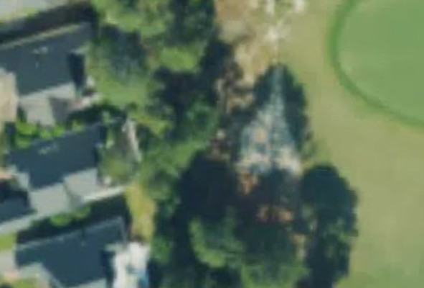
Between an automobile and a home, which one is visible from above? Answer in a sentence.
There is a home in the scene.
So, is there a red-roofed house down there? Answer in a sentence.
No, I can't see a single red-roofed house in this photo.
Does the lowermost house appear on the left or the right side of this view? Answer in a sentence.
The lowermost house appears in the left half of the scene.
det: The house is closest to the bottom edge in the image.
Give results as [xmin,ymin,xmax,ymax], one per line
[19,219,126,288]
